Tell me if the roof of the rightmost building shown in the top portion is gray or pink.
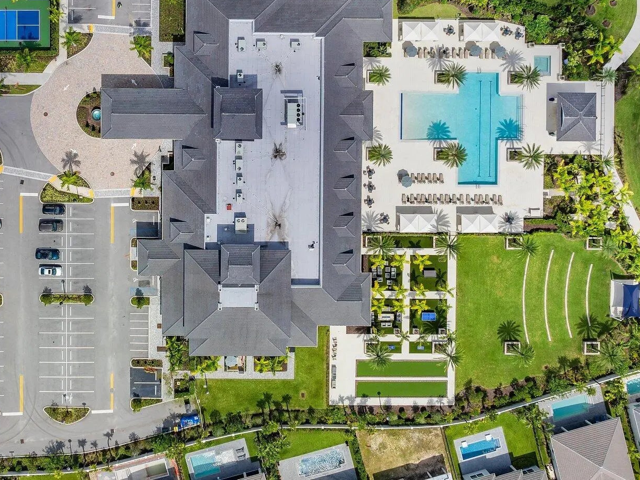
gray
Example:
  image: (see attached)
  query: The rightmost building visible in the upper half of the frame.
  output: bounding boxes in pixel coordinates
[550,92,597,142]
